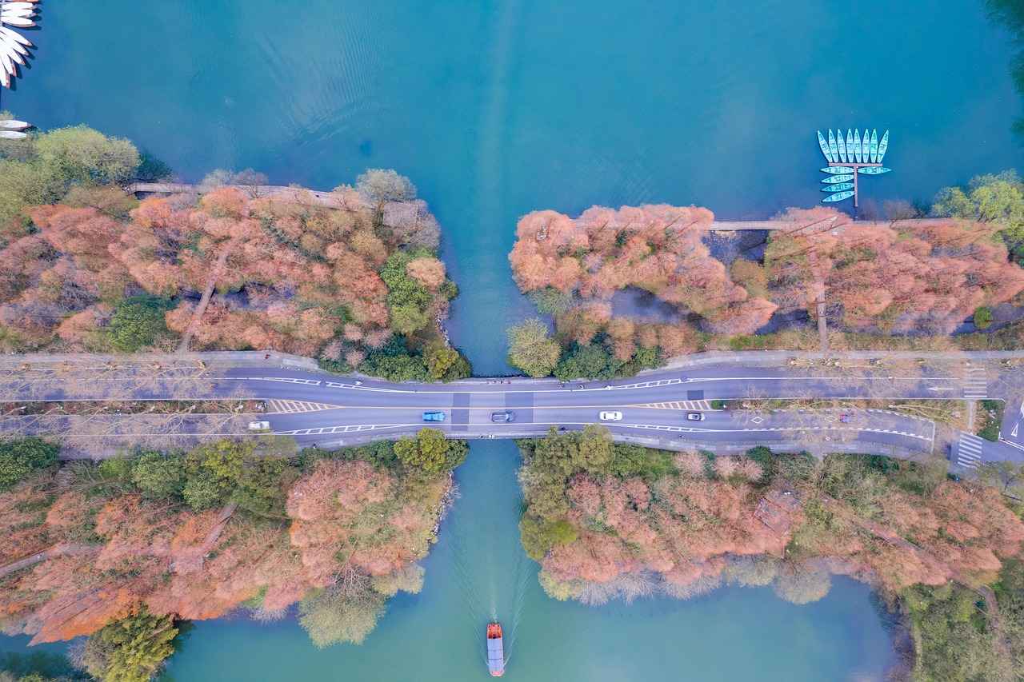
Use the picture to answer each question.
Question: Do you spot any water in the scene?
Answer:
Yes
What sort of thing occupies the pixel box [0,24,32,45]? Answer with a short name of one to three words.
boat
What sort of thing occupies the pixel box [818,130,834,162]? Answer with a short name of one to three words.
boat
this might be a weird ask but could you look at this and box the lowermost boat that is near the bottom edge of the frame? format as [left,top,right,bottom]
[487,621,504,681]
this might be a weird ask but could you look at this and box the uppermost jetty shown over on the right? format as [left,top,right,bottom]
[828,162,883,219]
